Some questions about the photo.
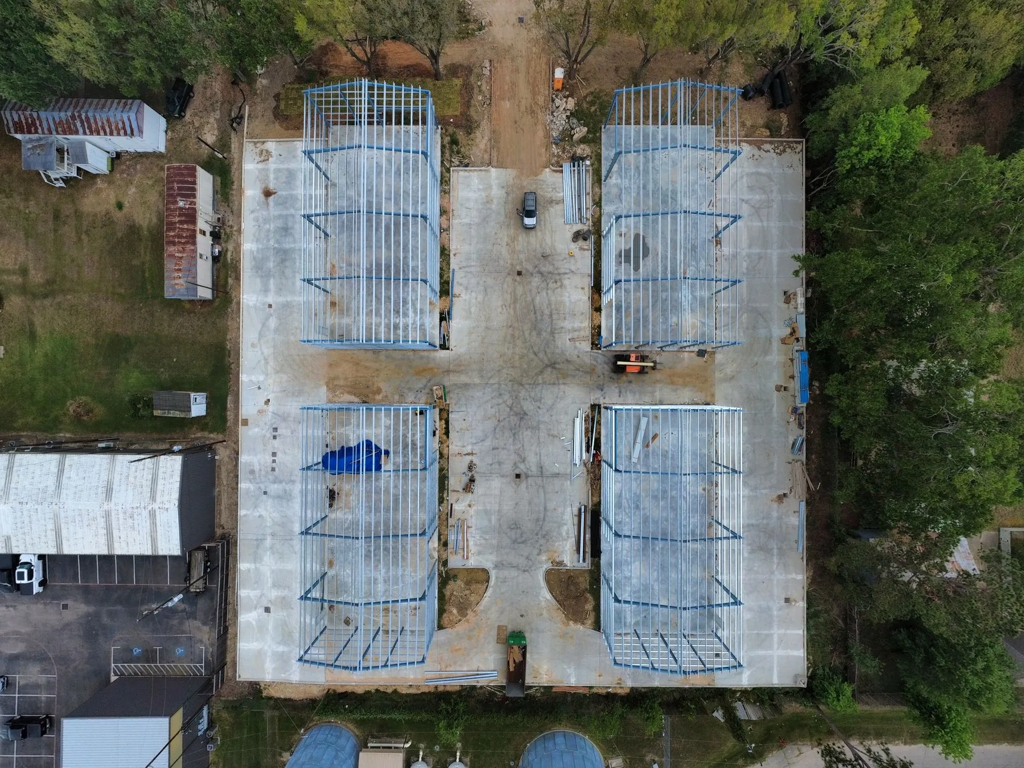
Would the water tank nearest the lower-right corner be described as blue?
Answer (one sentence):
Yes, blue is the color of the water tank nearest the lower-right corner.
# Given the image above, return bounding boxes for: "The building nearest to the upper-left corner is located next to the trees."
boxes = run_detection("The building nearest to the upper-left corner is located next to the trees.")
[0,97,163,195]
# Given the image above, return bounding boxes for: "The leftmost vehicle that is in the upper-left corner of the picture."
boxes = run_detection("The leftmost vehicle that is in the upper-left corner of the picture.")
[169,75,194,118]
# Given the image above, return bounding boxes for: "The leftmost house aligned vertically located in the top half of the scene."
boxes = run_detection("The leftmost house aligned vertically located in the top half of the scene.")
[164,163,225,302]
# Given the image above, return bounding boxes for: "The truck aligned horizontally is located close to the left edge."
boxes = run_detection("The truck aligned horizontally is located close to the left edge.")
[8,714,56,735]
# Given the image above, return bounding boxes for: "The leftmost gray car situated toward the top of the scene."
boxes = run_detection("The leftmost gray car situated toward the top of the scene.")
[513,192,537,229]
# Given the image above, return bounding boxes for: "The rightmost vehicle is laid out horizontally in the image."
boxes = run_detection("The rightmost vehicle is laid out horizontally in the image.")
[615,353,660,374]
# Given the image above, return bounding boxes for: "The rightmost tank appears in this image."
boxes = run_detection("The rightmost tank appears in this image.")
[519,728,607,768]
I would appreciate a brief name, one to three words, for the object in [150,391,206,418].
shed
